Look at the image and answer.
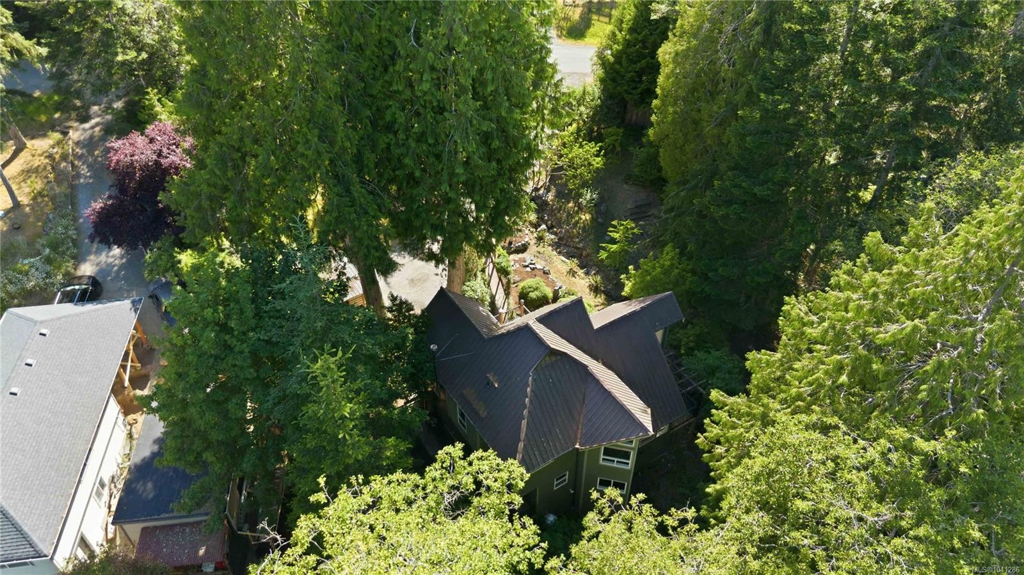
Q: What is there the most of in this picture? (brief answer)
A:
trees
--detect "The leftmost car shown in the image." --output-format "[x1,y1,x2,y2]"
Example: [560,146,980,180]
[57,275,119,306]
